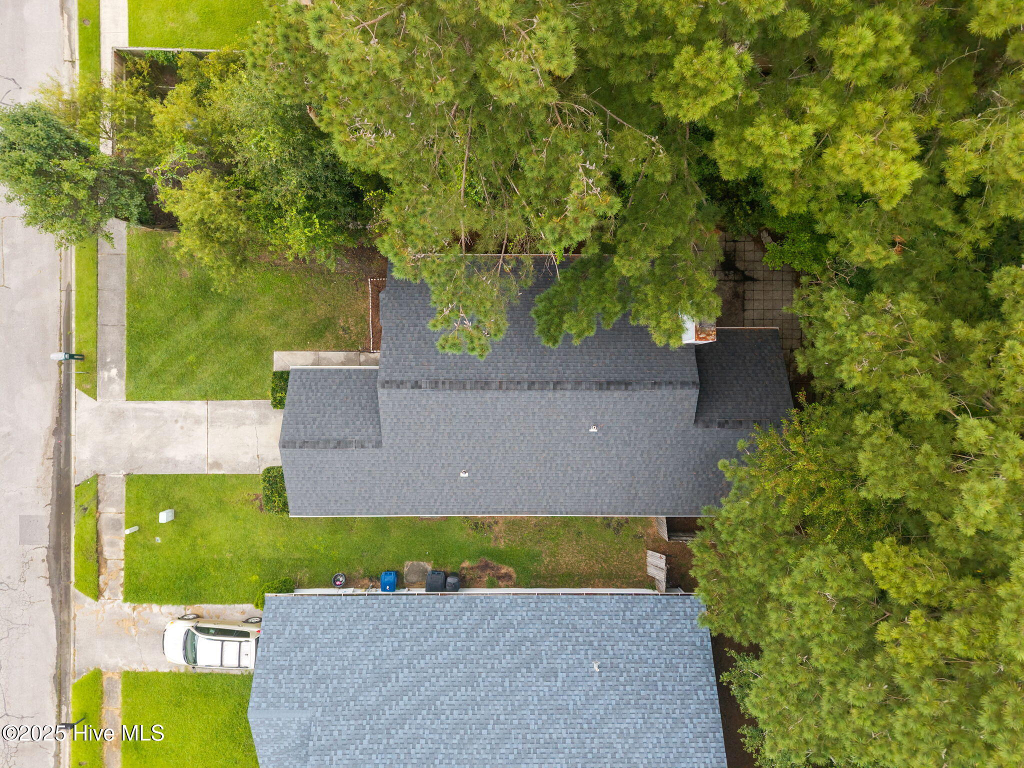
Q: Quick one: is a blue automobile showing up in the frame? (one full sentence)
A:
No, there's no blue automobile here.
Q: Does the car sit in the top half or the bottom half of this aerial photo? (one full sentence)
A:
The car is in the bottom half of the image.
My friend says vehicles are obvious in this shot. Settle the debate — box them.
[161,615,261,673]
